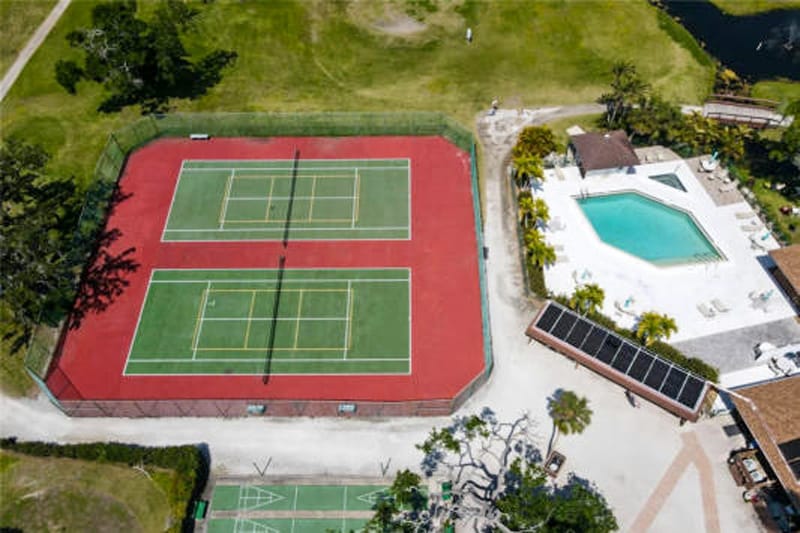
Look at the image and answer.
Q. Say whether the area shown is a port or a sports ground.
sports ground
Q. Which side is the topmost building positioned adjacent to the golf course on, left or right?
right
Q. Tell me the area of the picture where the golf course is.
top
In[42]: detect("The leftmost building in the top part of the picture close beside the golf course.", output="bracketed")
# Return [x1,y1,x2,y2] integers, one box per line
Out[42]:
[566,131,640,184]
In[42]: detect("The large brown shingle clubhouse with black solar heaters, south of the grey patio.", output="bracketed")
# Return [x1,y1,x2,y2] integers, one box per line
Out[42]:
[709,371,800,503]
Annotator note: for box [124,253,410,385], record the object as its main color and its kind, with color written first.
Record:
green tennis court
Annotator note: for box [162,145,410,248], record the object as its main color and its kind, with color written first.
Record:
green tennis court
